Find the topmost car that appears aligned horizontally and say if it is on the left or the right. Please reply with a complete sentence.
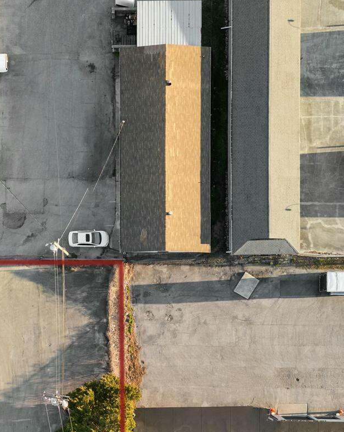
The topmost car that appears aligned horizontally is on the left side of the image.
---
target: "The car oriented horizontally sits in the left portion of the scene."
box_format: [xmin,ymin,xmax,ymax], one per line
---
[67,229,108,249]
